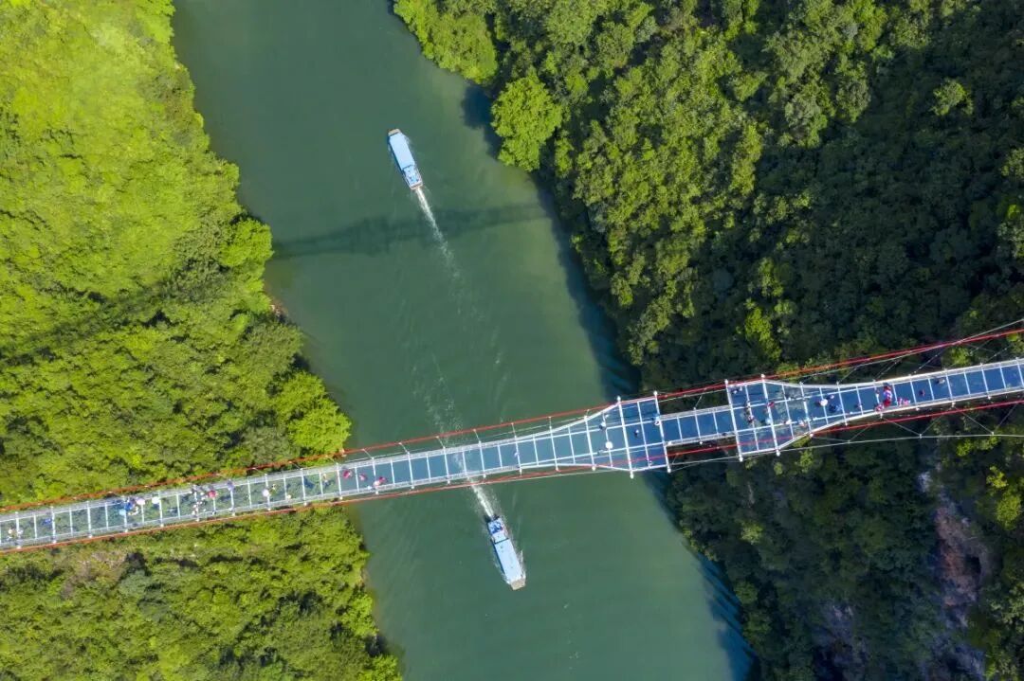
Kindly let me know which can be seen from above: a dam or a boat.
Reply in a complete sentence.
It is a boat that can be seen here.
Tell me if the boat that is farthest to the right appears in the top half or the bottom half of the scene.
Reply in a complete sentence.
The boat that is farthest to the right is in the bottom half of the image.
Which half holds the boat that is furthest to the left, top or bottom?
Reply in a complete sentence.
The boat that is furthest to the left is in the top half of the image.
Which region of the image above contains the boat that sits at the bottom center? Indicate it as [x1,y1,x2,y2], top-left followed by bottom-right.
[484,514,526,590]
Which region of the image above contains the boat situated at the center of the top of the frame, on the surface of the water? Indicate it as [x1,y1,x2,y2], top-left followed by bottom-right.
[390,129,425,193]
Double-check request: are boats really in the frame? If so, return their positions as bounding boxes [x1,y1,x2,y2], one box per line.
[484,514,526,590]
[390,129,425,193]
